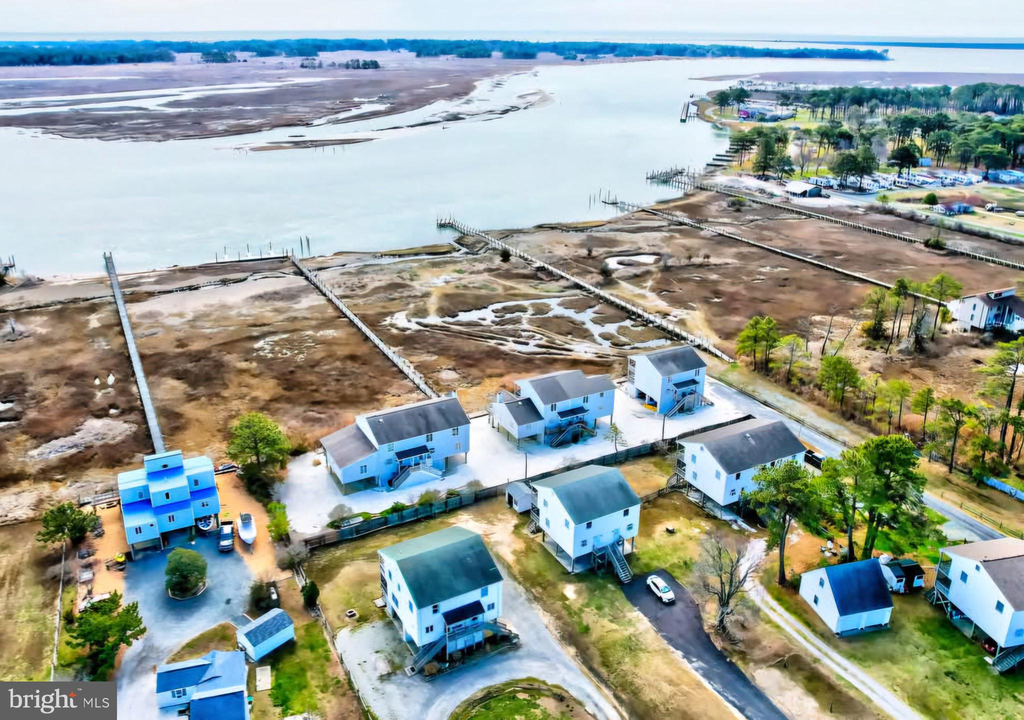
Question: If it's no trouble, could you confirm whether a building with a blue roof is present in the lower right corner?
Yes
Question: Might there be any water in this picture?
Yes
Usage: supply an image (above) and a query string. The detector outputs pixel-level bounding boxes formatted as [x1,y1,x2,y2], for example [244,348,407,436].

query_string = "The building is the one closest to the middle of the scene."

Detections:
[489,369,617,452]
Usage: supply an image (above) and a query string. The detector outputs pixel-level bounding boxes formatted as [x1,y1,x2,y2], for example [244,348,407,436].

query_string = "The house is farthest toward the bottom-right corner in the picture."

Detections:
[914,537,1024,679]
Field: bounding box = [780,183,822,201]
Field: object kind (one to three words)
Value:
building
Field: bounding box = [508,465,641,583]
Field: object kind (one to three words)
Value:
house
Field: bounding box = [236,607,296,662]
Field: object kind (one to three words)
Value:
shed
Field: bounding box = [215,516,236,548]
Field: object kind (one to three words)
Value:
truck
